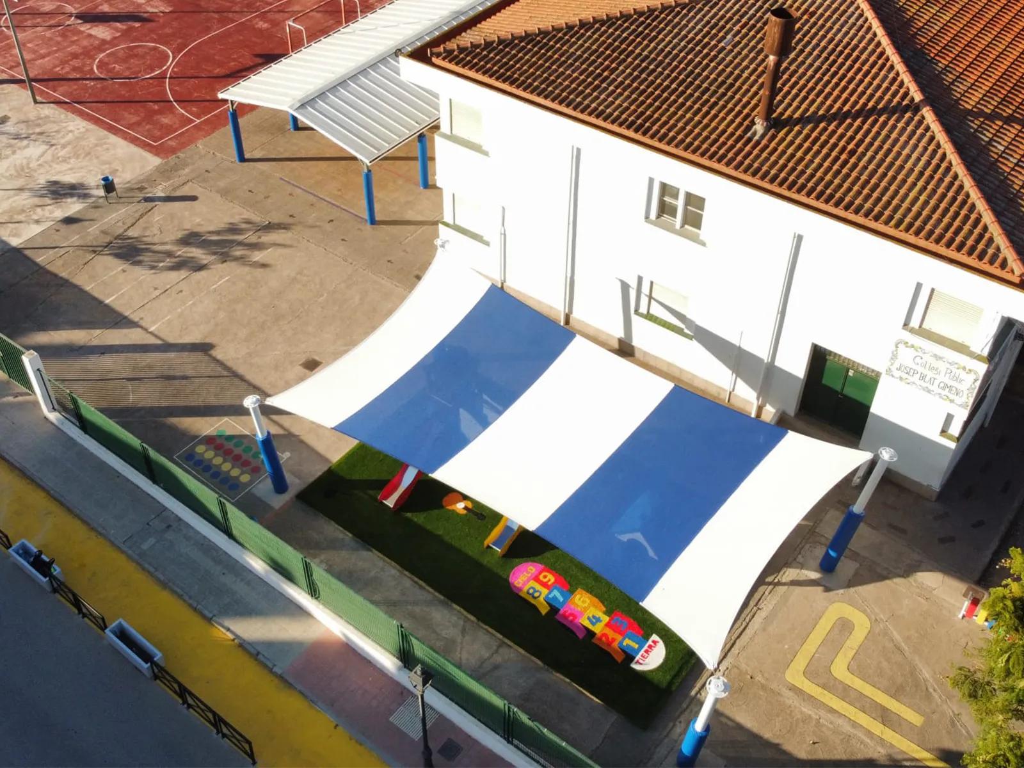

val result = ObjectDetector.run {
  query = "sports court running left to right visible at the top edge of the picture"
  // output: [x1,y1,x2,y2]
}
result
[0,0,396,159]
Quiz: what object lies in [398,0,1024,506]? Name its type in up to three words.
building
